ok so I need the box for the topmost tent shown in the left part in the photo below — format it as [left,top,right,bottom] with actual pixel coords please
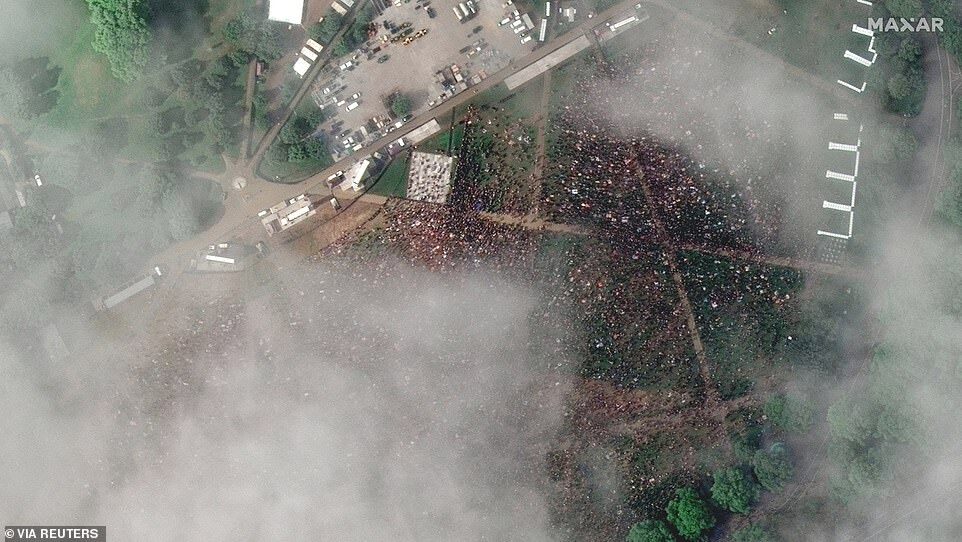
[266,0,302,24]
